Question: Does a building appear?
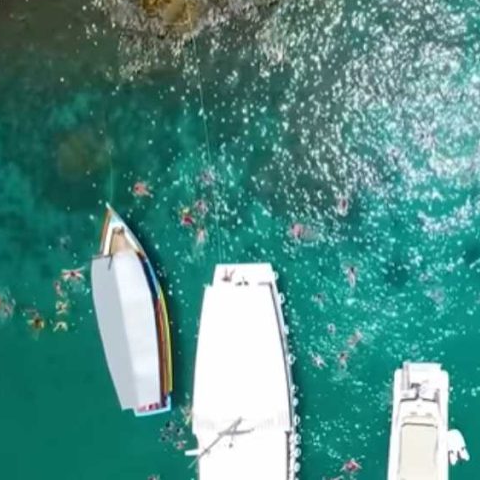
No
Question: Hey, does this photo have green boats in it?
No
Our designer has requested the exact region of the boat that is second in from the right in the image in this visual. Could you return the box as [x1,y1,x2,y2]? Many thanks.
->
[387,358,450,480]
